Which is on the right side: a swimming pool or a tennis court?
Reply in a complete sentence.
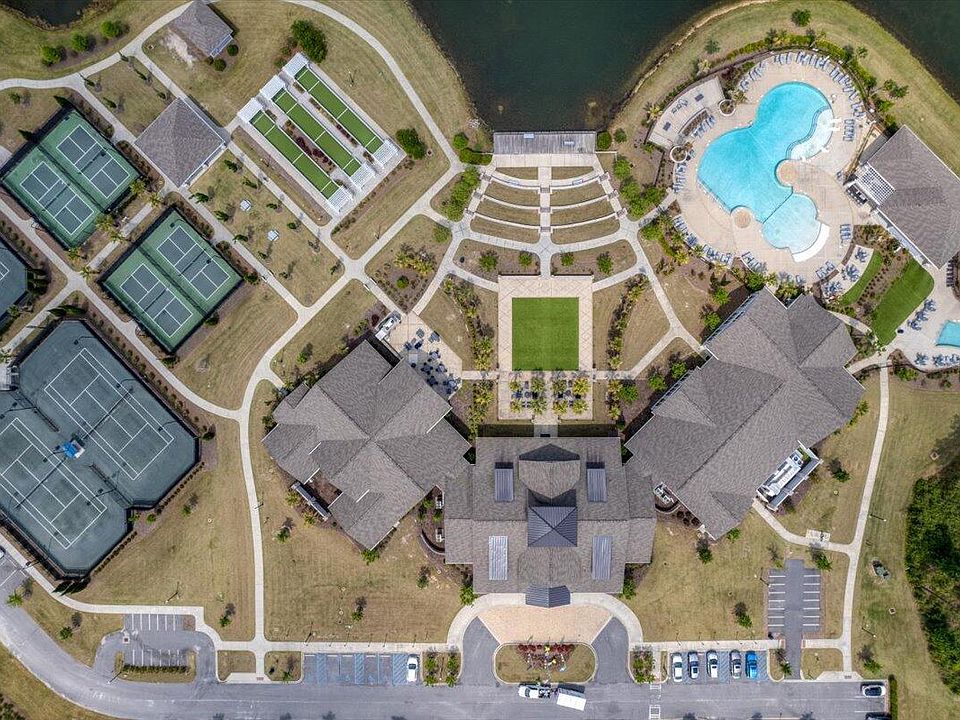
It is a swimming pool that can be seen on the right side.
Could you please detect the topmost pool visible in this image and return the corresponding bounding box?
[696,81,834,224]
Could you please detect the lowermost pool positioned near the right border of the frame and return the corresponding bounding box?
[935,319,960,350]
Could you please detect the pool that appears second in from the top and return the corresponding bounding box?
[760,192,830,262]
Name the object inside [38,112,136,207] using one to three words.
sports court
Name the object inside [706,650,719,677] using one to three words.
vehicle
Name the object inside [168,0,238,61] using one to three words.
building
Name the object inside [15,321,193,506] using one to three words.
tennis court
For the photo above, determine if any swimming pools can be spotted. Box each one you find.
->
[935,319,960,350]
[696,81,834,224]
[760,192,830,262]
